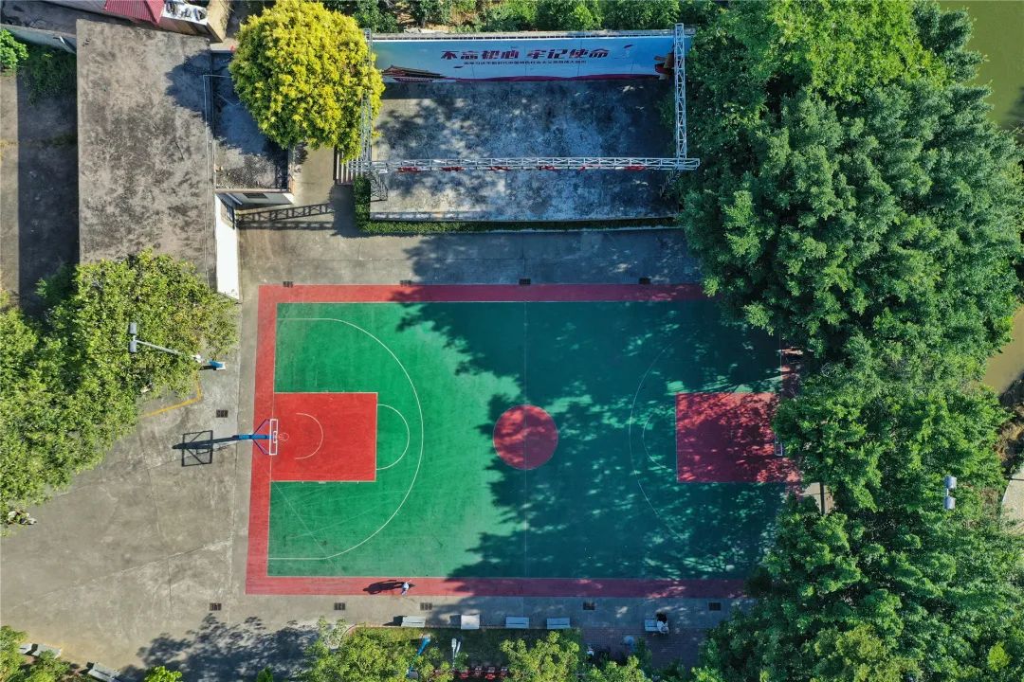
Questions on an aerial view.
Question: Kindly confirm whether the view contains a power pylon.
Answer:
No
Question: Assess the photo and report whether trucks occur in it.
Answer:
No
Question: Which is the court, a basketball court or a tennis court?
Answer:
basketball court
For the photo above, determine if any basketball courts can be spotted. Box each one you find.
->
[246,284,808,598]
